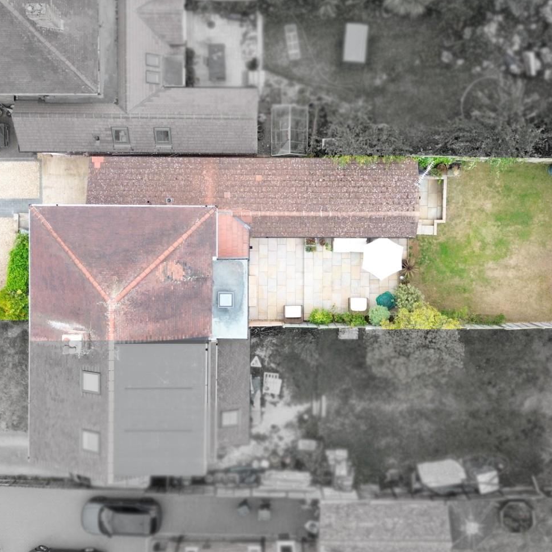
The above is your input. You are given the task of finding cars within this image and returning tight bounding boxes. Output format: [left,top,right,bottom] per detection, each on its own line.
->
[28,545,105,552]
[82,498,163,541]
